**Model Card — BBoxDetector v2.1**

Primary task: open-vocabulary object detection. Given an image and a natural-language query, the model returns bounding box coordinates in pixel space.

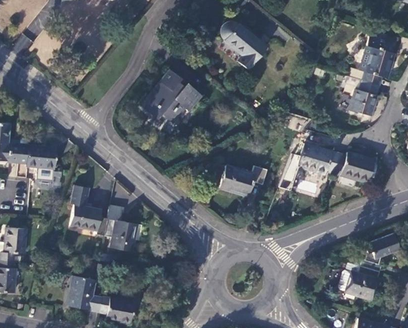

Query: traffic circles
[202,238,289,323]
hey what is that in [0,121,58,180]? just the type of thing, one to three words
house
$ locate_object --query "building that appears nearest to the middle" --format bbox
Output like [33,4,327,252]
[219,164,268,197]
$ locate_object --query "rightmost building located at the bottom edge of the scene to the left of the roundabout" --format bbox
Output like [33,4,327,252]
[107,294,138,325]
